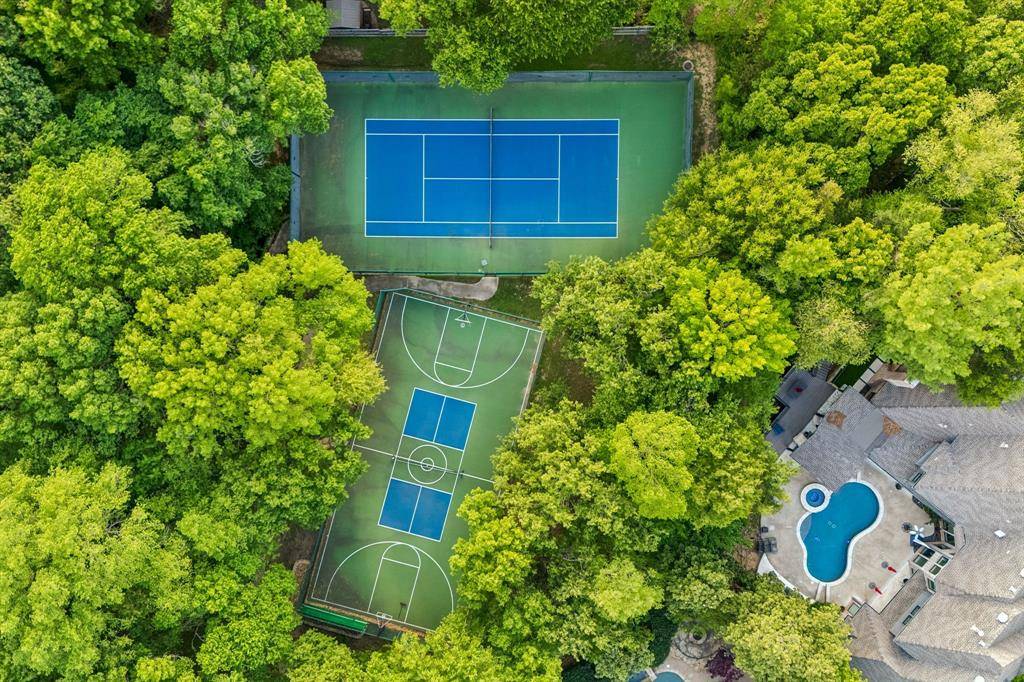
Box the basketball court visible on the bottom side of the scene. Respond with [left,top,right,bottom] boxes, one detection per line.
[305,287,549,636]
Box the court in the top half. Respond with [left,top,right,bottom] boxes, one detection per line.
[300,83,686,274]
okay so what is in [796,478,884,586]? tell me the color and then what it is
blue swimming pool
